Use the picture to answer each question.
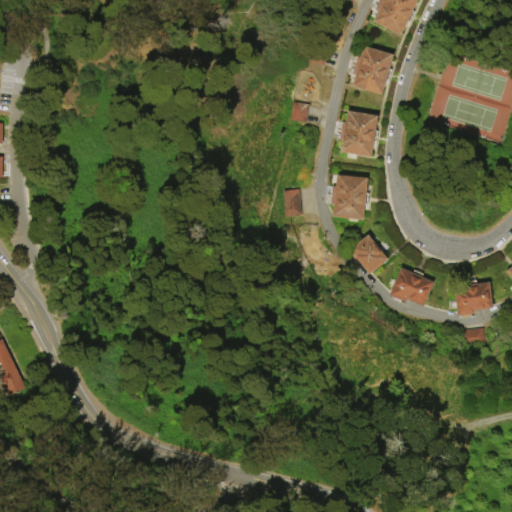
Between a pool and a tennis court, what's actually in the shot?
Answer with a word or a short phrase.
tennis court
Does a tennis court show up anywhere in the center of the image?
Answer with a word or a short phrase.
No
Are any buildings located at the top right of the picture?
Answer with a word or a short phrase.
Yes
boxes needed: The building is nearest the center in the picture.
[284,188,304,216]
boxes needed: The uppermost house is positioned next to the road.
[372,0,418,33]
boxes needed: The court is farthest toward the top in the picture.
[438,56,512,108]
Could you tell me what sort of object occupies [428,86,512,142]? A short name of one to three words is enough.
tennis court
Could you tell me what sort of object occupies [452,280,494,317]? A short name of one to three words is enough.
house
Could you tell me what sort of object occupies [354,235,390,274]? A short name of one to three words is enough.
house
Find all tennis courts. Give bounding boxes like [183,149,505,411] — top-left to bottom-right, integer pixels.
[438,56,512,108]
[428,86,512,142]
